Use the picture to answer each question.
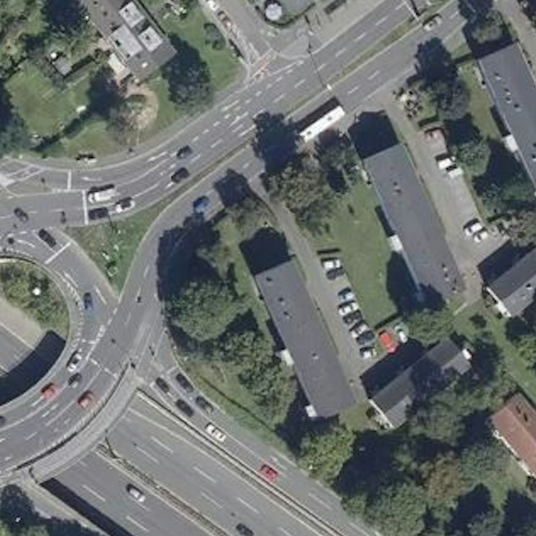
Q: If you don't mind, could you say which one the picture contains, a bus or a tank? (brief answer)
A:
bus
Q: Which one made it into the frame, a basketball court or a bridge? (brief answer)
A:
bridge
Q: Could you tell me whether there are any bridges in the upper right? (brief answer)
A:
No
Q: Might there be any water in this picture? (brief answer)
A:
No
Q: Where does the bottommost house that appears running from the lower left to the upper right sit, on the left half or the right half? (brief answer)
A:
right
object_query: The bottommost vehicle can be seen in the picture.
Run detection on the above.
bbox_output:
[235,523,255,536]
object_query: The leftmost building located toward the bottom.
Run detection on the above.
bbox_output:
[251,259,358,421]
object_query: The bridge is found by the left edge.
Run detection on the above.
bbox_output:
[1,328,141,499]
